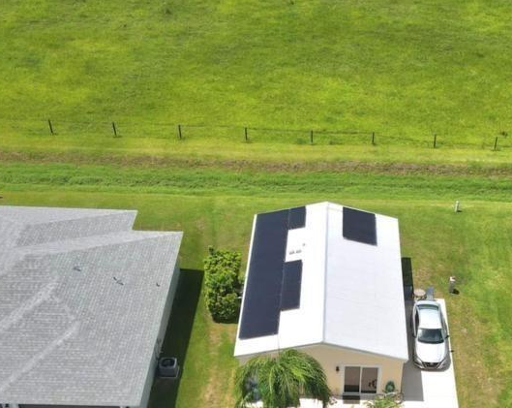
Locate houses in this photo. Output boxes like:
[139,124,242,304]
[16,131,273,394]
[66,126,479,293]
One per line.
[232,201,411,400]
[0,207,184,408]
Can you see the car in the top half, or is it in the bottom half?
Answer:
bottom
